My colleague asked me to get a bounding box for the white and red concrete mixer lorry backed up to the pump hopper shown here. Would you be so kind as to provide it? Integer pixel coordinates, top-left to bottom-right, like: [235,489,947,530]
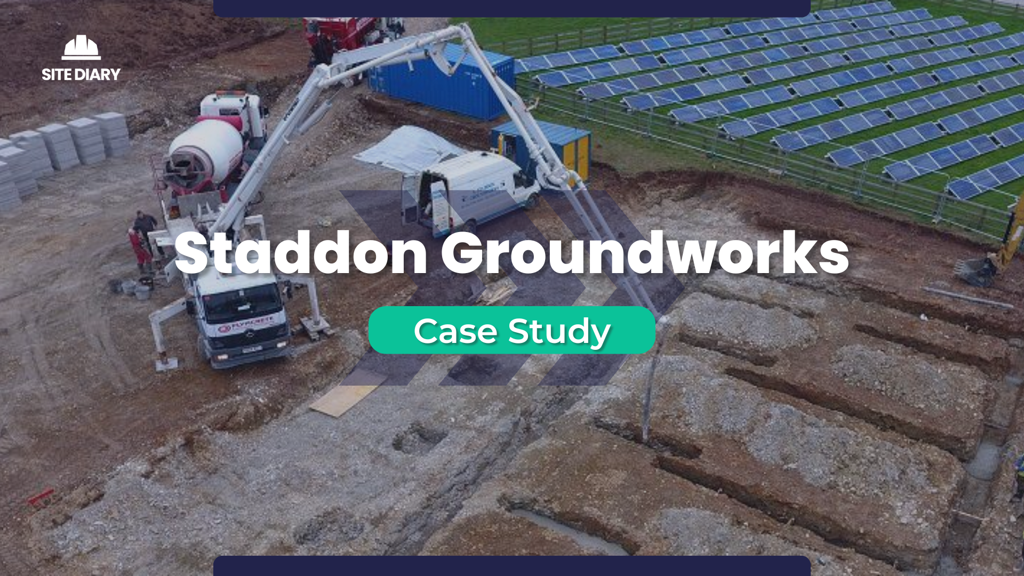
[141,87,289,217]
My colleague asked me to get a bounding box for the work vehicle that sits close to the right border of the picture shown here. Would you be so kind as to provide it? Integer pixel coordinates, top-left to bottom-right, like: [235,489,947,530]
[951,190,1024,294]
